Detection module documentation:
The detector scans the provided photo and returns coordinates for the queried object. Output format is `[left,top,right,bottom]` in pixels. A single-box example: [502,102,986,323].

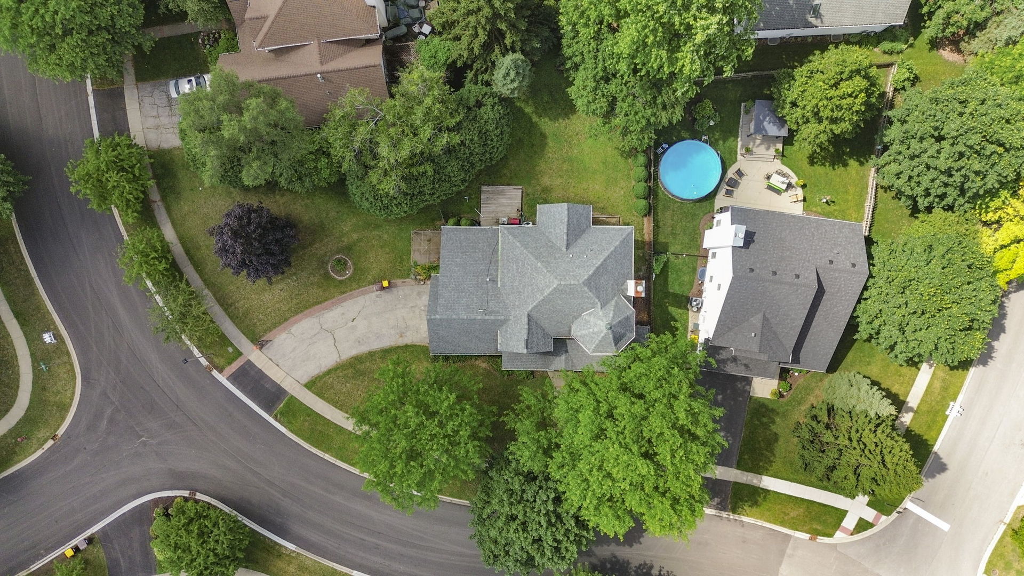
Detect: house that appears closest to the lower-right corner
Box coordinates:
[699,204,870,381]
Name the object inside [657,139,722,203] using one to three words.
swimming pool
